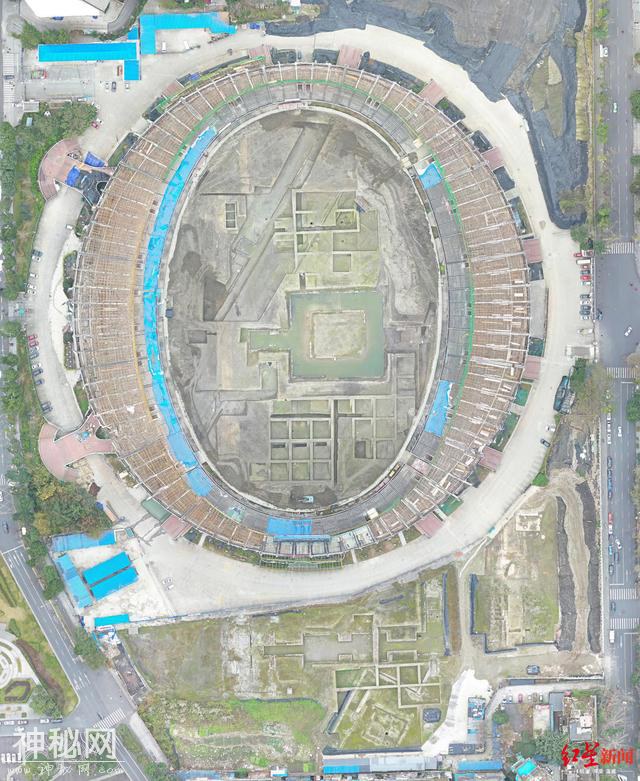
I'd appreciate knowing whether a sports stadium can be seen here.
Yes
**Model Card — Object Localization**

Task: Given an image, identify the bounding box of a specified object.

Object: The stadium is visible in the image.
[72,46,545,563]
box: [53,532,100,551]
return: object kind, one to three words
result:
shed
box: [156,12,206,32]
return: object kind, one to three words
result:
shed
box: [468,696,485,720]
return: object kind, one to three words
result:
building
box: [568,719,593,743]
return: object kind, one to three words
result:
building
